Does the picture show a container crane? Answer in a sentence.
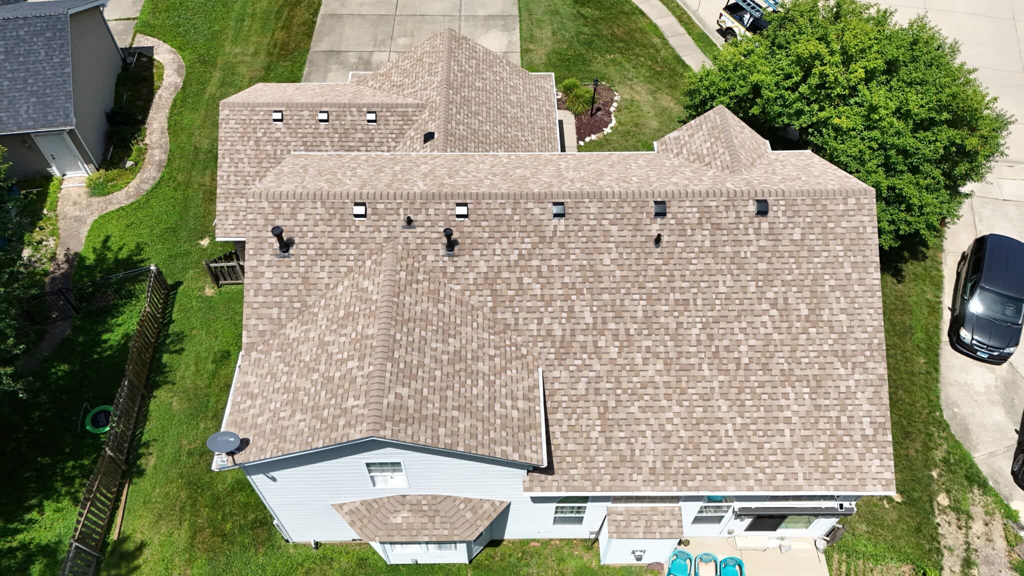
No, no container crane is visible in the view.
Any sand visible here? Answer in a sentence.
No, sand can't be seen anywhere here.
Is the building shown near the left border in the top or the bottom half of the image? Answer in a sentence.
You can find the building shown near the left border in the top half.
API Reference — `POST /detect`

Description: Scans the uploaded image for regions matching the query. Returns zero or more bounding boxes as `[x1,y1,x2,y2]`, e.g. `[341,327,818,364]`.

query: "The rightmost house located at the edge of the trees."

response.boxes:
[209,28,897,567]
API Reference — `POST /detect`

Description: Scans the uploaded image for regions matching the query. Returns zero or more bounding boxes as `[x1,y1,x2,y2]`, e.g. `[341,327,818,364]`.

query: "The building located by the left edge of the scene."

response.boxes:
[0,4,124,180]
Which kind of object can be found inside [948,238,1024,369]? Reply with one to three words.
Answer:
car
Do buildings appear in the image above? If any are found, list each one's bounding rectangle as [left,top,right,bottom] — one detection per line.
[209,28,897,567]
[0,4,124,180]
